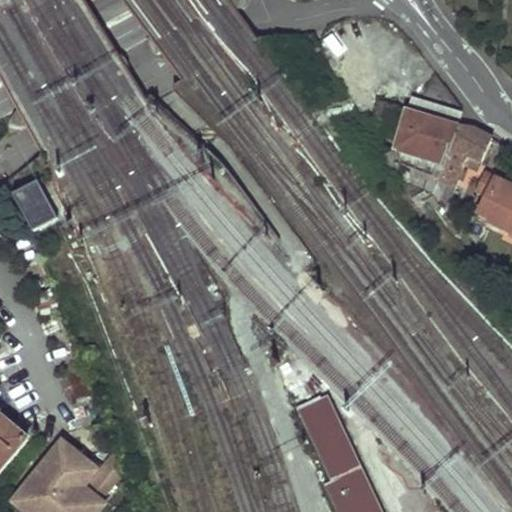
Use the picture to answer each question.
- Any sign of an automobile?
Yes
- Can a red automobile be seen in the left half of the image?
No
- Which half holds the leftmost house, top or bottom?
bottom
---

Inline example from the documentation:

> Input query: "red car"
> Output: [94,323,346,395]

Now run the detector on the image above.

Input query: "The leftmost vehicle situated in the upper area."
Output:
[349,20,364,39]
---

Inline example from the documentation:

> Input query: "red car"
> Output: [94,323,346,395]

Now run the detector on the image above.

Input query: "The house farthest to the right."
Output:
[468,168,512,250]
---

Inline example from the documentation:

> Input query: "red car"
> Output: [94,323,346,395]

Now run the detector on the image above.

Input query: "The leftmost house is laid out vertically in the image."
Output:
[0,410,30,480]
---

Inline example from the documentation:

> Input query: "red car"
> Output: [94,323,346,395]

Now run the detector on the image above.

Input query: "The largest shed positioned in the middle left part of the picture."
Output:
[11,178,60,230]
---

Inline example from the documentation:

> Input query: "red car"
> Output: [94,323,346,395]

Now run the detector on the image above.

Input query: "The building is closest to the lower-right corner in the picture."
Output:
[296,394,382,512]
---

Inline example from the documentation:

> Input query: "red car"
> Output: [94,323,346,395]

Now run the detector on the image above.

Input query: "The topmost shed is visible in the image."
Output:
[322,32,348,60]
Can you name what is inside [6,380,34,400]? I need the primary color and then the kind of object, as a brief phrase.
white vehicle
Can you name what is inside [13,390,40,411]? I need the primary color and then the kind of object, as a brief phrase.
white vehicle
